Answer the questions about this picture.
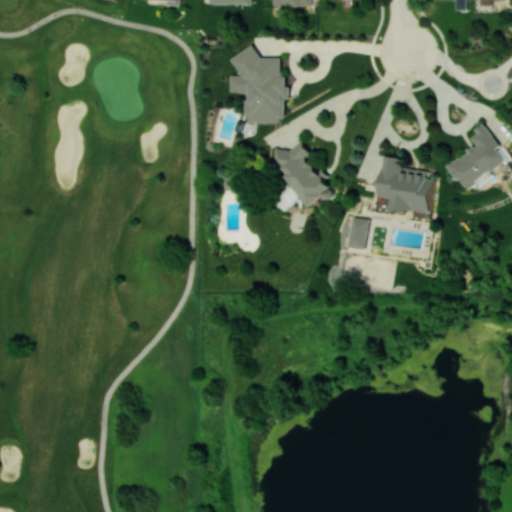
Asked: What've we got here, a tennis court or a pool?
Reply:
pool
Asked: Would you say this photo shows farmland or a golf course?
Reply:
golf course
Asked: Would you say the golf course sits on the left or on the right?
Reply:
left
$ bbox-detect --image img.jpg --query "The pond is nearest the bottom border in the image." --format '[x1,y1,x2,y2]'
[260,349,500,512]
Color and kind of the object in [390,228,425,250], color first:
blue swimming pool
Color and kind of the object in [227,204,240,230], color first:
blue swimming pool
